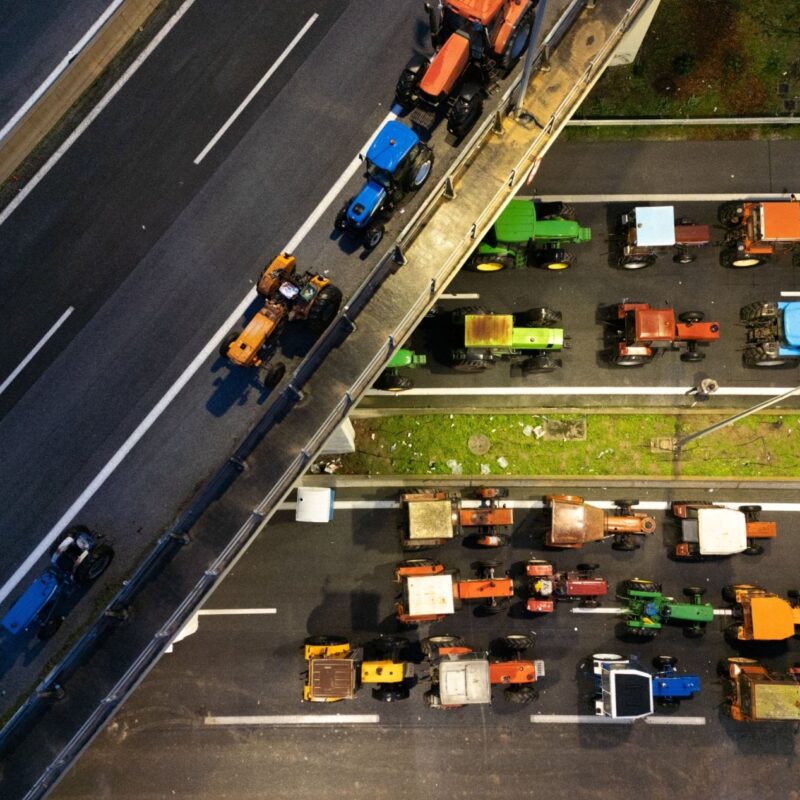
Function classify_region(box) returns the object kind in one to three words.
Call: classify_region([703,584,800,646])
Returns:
work vehicle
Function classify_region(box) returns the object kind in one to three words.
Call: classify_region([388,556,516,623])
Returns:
work vehicle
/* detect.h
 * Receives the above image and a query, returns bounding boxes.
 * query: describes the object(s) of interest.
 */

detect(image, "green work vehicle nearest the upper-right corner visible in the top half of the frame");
[466,194,589,280]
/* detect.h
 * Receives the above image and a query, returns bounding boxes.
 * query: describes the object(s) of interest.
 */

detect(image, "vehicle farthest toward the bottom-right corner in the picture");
[704,654,800,728]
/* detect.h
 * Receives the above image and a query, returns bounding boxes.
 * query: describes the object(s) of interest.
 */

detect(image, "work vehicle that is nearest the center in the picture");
[377,334,426,395]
